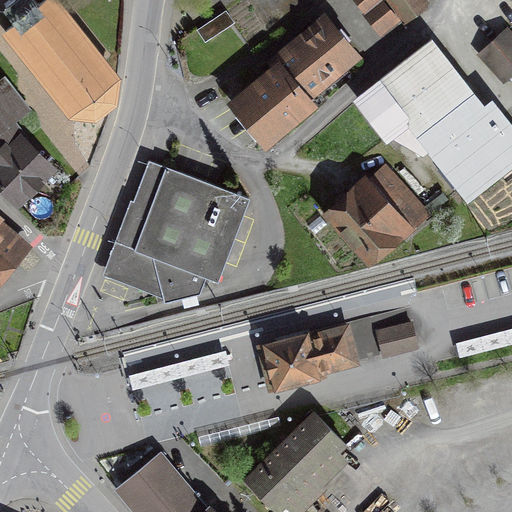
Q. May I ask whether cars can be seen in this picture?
Yes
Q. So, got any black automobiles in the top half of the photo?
Yes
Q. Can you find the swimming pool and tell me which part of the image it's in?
left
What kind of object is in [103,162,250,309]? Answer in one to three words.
building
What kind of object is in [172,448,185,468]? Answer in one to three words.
vehicle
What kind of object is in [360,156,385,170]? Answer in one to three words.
car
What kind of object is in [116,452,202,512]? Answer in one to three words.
house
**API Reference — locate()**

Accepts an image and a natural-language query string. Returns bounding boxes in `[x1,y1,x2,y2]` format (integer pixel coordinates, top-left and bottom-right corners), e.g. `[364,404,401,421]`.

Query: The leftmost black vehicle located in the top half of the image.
[195,90,218,106]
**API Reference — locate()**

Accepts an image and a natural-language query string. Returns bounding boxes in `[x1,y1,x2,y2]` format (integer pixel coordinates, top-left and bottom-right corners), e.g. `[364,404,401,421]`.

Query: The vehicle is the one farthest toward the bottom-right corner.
[423,396,442,426]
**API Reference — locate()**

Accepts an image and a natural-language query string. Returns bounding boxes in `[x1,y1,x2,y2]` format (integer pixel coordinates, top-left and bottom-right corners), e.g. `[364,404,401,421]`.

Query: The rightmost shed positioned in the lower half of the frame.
[374,320,418,358]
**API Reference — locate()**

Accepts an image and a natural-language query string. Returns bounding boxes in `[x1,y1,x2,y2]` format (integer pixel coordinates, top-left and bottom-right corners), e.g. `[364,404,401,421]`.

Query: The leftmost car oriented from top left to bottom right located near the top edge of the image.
[473,13,494,38]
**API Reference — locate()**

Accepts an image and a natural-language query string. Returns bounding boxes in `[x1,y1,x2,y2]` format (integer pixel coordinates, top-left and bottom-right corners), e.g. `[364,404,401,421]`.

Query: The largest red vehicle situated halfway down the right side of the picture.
[462,283,475,308]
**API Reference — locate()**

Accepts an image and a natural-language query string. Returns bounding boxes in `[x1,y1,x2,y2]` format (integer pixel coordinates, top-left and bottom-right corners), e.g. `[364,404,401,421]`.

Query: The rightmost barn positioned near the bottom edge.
[244,412,349,512]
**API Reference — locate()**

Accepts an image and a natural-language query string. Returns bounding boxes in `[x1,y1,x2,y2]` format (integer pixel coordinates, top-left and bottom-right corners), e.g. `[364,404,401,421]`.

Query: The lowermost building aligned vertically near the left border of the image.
[0,216,32,285]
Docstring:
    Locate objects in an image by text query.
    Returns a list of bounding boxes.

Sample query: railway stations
[258,324,360,394]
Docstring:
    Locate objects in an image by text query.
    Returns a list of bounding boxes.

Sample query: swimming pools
[30,196,53,220]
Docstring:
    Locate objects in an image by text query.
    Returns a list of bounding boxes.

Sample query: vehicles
[496,0,512,26]
[496,270,510,294]
[195,90,218,106]
[172,448,185,468]
[462,283,475,308]
[423,396,442,426]
[473,13,494,38]
[230,120,245,133]
[360,156,385,170]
